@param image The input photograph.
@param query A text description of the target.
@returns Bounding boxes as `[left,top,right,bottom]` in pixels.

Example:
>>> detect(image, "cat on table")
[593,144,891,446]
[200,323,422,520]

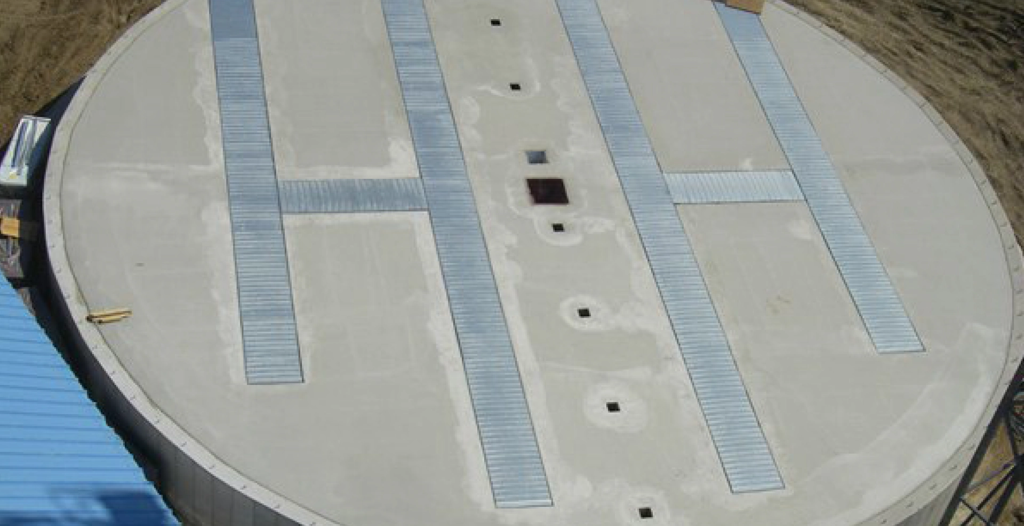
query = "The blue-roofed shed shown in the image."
[0,270,181,526]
